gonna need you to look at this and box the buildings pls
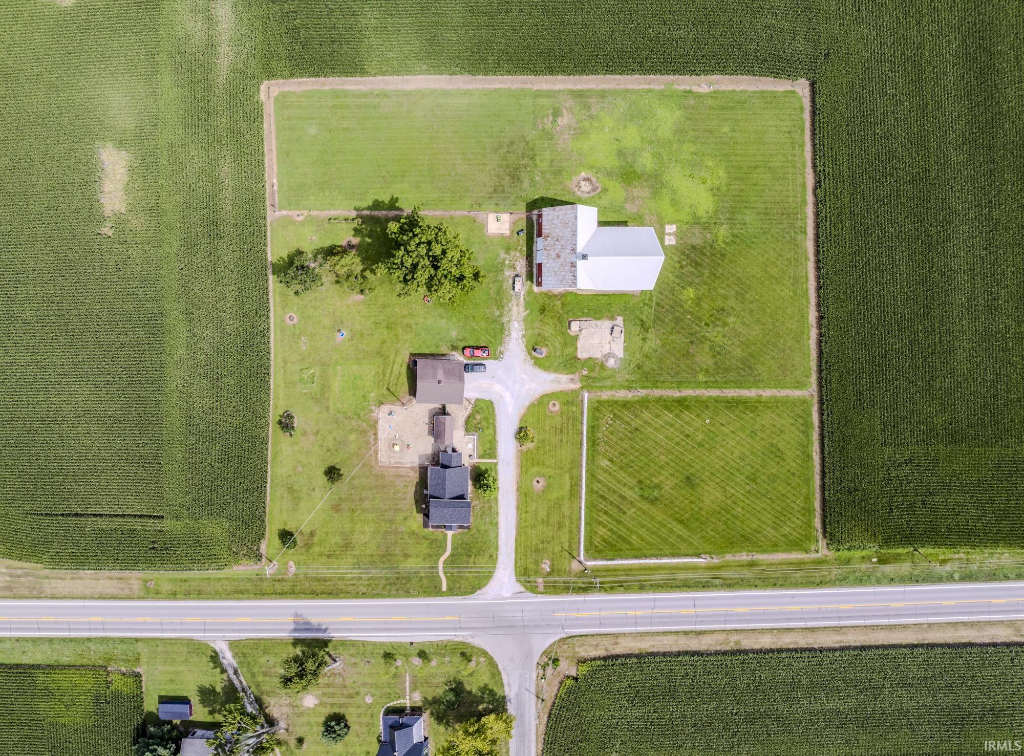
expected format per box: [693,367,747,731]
[434,415,455,445]
[536,204,665,291]
[429,445,472,532]
[377,712,429,756]
[180,726,242,756]
[416,359,464,404]
[160,698,194,718]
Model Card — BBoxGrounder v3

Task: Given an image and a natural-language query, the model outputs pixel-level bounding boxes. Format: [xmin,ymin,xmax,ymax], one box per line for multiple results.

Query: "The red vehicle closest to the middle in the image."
[462,347,491,359]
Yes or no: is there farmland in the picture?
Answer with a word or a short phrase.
Yes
